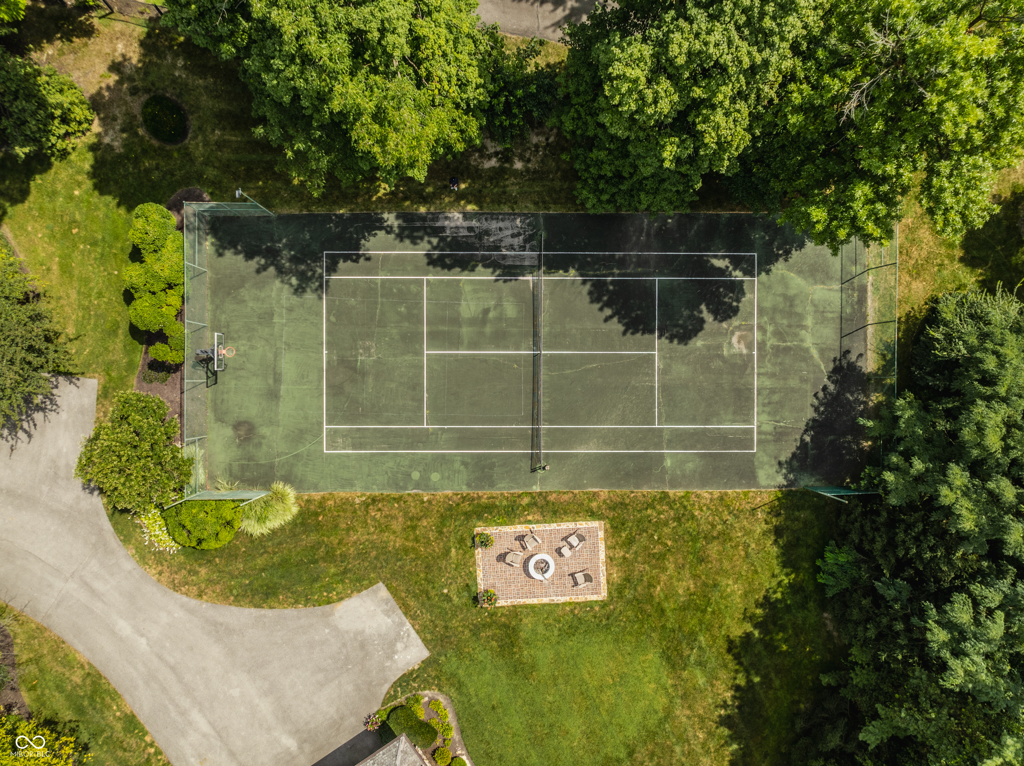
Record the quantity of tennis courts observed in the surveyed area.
1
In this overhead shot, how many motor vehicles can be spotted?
zero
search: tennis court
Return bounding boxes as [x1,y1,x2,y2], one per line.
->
[207,211,869,492]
